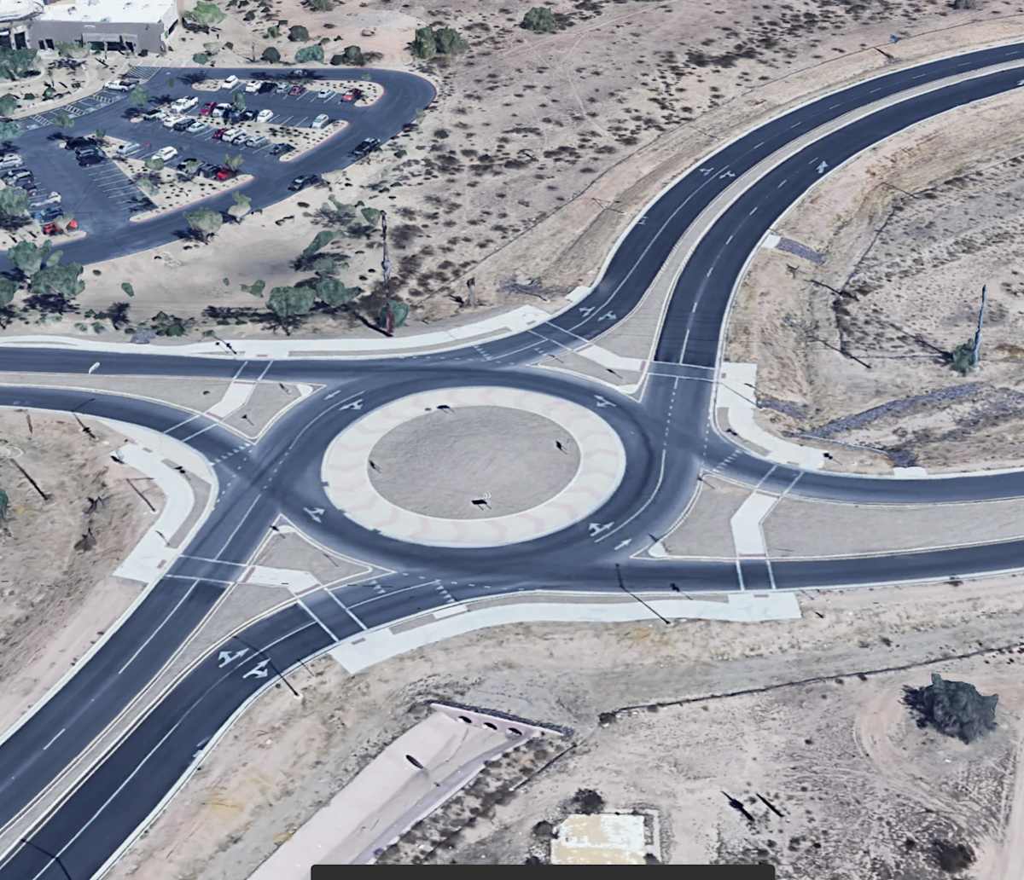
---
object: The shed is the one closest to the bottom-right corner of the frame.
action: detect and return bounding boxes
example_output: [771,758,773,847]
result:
[550,815,649,880]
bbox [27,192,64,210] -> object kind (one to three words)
vehicle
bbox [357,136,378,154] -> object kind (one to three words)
car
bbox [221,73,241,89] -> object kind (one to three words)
car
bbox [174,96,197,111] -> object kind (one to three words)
vehicle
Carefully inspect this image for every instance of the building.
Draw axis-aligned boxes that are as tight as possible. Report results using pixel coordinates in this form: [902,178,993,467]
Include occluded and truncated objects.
[550,815,649,880]
[24,0,188,57]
